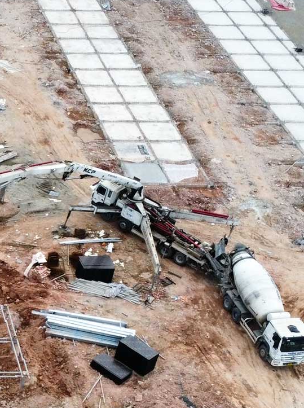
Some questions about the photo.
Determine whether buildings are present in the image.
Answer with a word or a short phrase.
No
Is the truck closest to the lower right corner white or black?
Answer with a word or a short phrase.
white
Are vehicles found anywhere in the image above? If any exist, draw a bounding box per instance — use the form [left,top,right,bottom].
[0,159,240,301]
[220,247,304,361]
